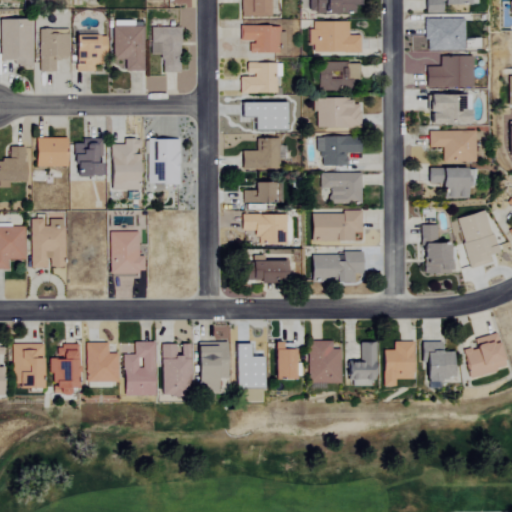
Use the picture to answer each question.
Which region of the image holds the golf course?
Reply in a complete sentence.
The golf course is in the bottom part of the image.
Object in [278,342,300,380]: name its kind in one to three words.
house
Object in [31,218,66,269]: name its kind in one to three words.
house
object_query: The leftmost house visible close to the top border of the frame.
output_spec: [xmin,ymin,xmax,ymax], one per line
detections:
[1,18,34,69]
